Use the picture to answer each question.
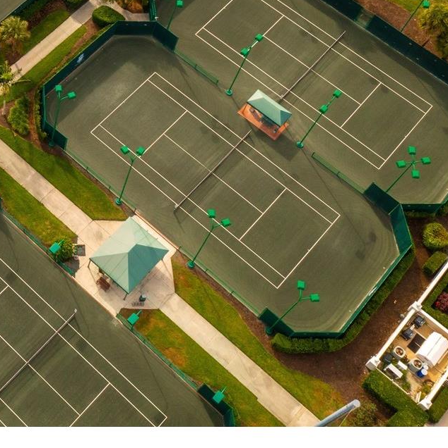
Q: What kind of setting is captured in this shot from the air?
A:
sports ground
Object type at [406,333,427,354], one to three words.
solar panel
